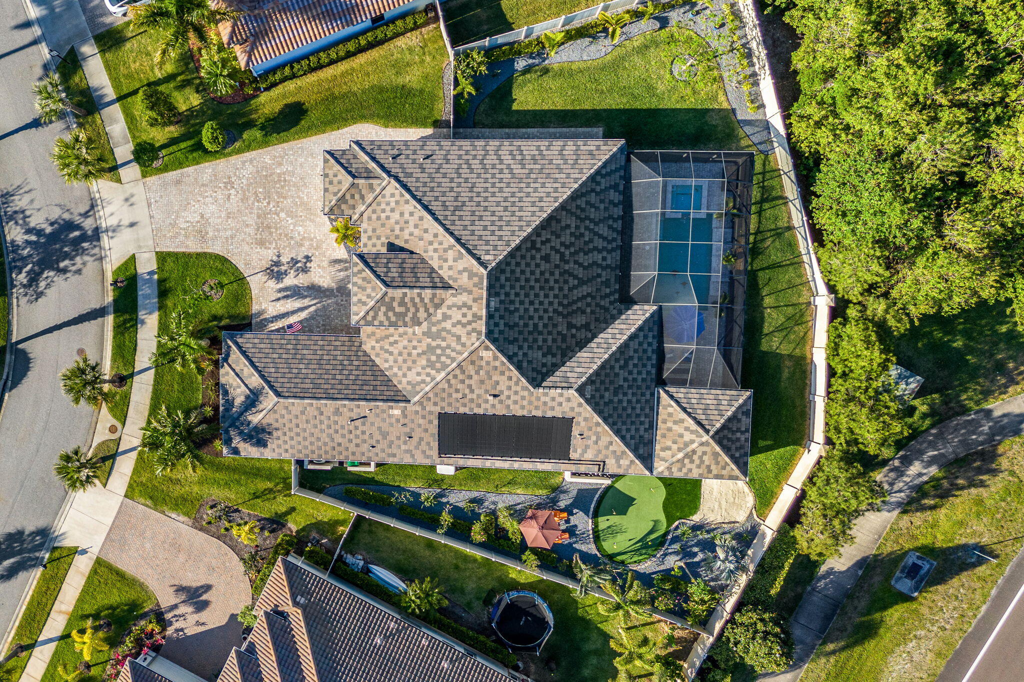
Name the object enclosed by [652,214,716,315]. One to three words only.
swimming pool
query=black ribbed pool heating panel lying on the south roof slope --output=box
[439,412,605,474]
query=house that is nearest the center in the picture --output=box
[218,138,754,481]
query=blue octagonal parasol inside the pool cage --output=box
[664,303,705,344]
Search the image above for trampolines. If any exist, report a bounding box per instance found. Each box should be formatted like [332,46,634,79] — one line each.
[493,585,554,656]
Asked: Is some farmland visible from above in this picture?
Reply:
No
